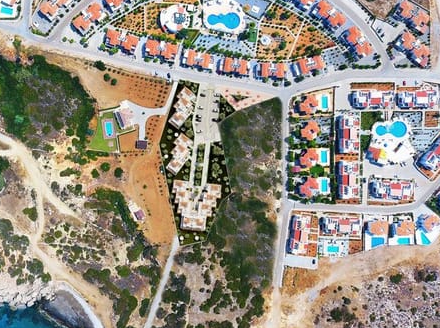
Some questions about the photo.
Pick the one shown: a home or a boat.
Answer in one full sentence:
There is a home in the scene.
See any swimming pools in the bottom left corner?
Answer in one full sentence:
No, I can find no swimming pool in the bottom left corner.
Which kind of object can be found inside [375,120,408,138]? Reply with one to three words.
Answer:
swimming pool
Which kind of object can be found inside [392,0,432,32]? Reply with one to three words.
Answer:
house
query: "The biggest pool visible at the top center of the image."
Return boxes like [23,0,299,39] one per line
[207,12,241,30]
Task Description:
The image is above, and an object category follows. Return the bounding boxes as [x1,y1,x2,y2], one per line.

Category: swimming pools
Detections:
[321,94,328,109]
[371,237,385,247]
[0,5,14,16]
[320,150,327,162]
[420,231,433,245]
[327,244,340,252]
[397,237,410,245]
[375,120,408,138]
[207,12,241,30]
[321,179,328,192]
[106,121,113,135]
